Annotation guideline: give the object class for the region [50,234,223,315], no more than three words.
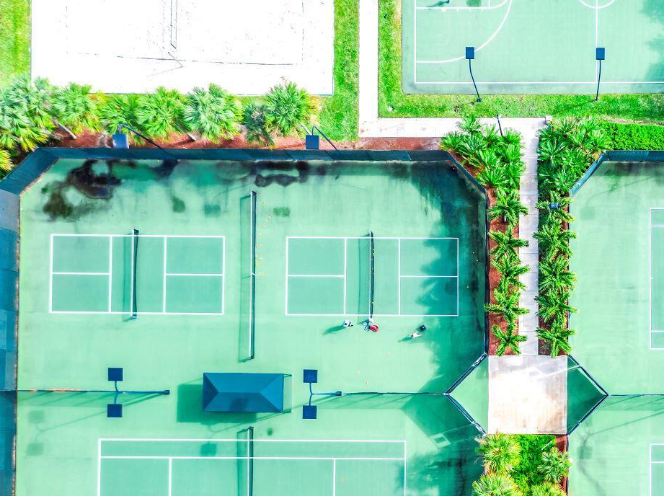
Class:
sports court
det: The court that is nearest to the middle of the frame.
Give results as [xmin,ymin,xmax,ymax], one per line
[285,237,459,316]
